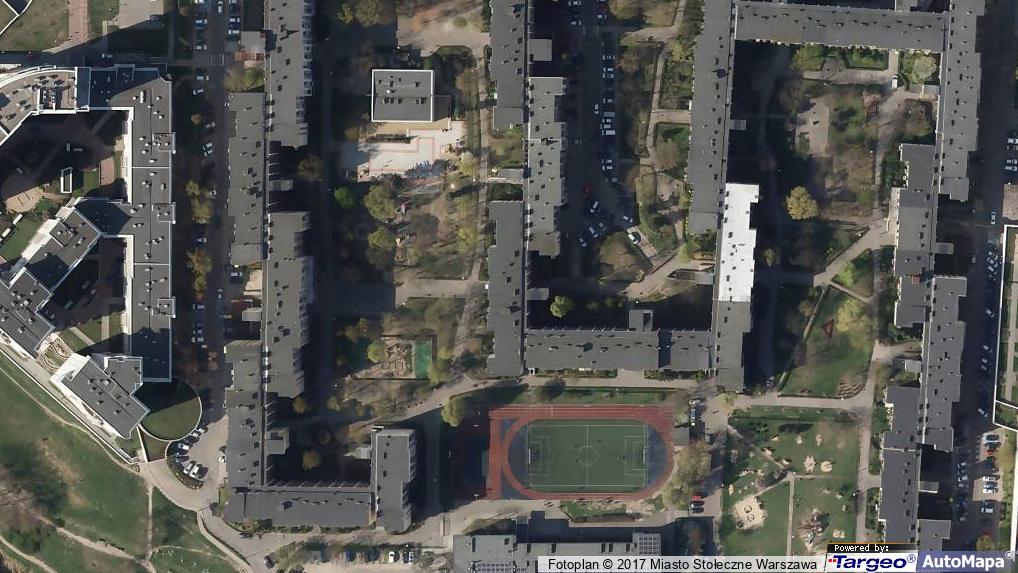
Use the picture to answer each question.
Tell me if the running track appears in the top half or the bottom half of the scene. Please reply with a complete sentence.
It is in the bottom half that the running track appears.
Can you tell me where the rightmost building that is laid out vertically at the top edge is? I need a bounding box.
[941,0,988,202]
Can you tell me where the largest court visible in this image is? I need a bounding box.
[455,413,489,500]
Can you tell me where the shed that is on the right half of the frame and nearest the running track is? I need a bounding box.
[673,427,689,447]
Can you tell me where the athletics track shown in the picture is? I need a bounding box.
[489,405,673,500]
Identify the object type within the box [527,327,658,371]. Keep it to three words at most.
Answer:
building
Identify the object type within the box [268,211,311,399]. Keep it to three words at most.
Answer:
building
